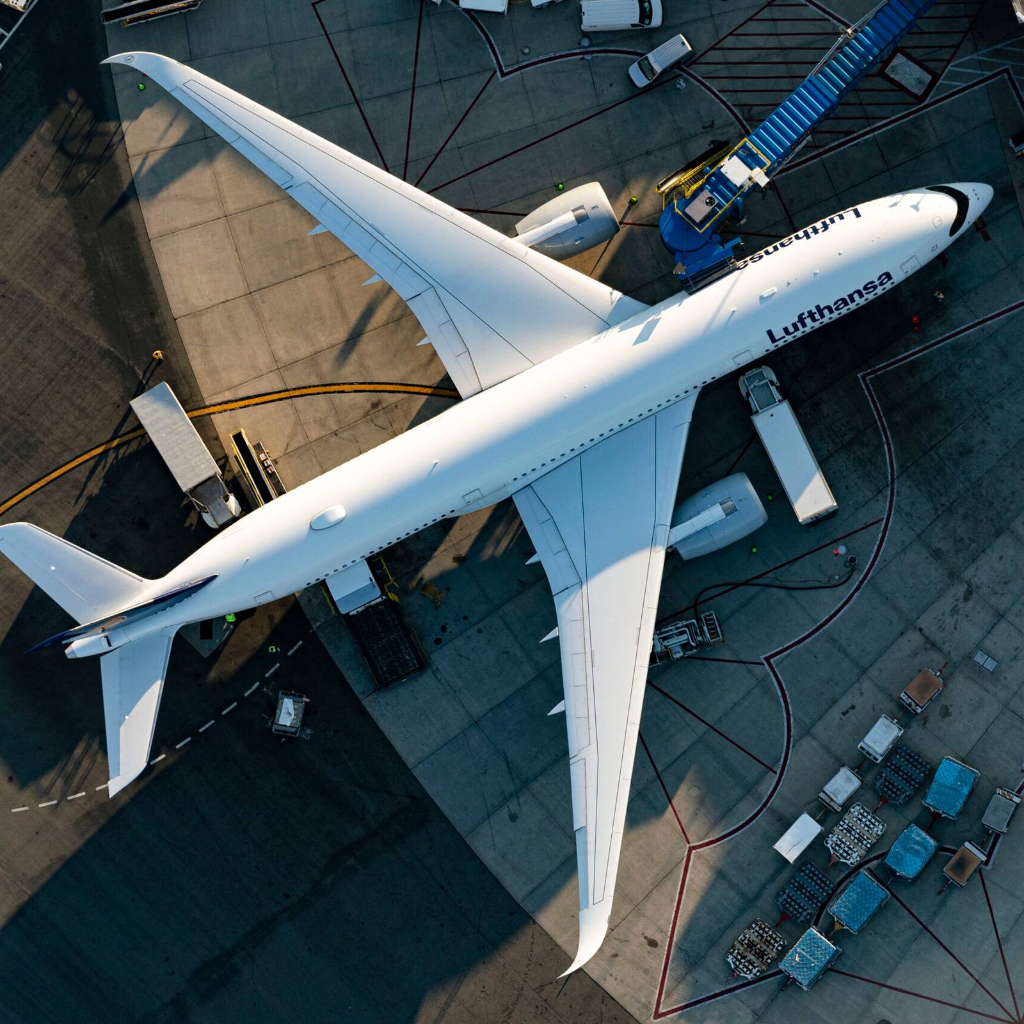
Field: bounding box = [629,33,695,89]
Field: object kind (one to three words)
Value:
van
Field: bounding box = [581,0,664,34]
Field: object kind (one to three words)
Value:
van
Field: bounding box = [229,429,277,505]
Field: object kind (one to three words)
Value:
work vehicle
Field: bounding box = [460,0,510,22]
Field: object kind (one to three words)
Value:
truck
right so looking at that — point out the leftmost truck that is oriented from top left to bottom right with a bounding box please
[131,381,249,537]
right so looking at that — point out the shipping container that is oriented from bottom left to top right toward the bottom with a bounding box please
[772,805,830,865]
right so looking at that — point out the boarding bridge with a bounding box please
[658,0,943,296]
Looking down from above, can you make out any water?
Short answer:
No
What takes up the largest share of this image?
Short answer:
paved ground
